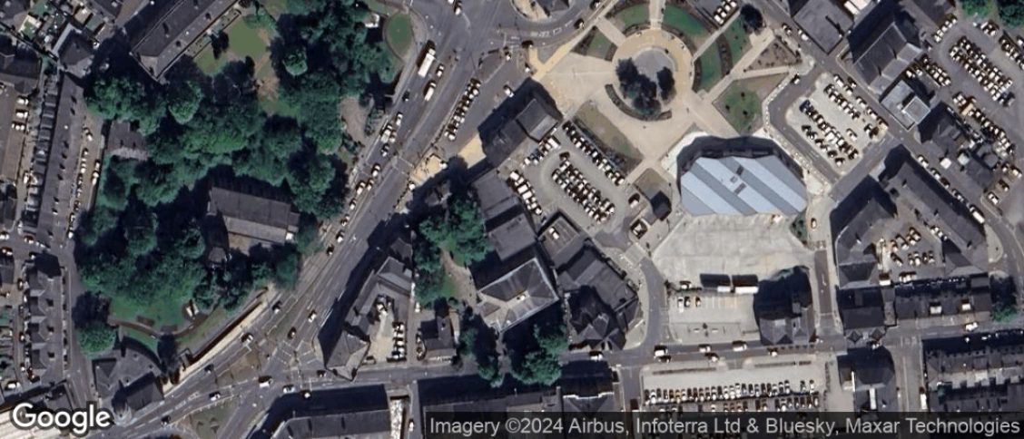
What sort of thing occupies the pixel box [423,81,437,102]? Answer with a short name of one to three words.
vehicle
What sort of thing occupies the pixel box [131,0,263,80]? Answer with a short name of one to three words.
building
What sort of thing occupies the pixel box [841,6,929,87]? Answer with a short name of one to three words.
building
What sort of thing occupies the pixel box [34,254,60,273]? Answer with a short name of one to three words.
house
